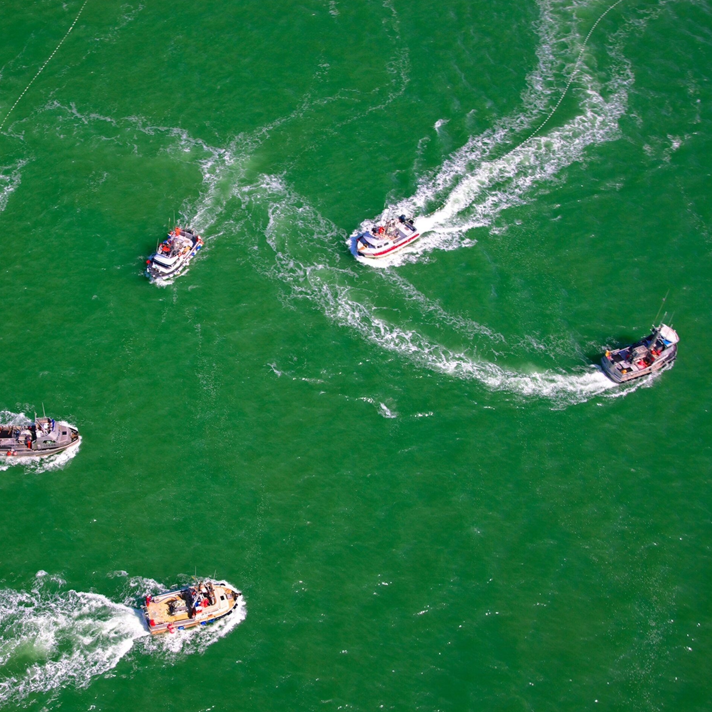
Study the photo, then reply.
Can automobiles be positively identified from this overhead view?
No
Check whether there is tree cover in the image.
No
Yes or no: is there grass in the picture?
No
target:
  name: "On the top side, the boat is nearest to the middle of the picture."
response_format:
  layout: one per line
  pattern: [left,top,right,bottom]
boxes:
[356,208,418,258]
